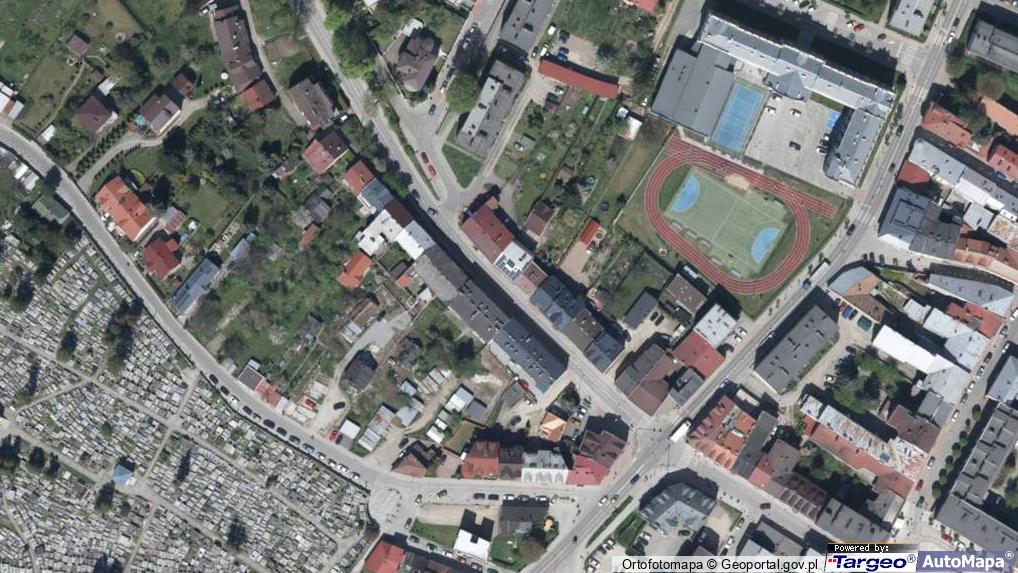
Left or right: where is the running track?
right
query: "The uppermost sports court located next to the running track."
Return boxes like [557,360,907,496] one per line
[709,77,768,156]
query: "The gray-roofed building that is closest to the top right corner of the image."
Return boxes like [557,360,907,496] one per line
[963,21,1018,79]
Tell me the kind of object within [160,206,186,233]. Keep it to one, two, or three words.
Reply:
building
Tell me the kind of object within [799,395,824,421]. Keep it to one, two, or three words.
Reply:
shed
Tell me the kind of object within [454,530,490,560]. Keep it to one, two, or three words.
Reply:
house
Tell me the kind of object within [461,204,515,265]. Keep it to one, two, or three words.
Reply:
house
